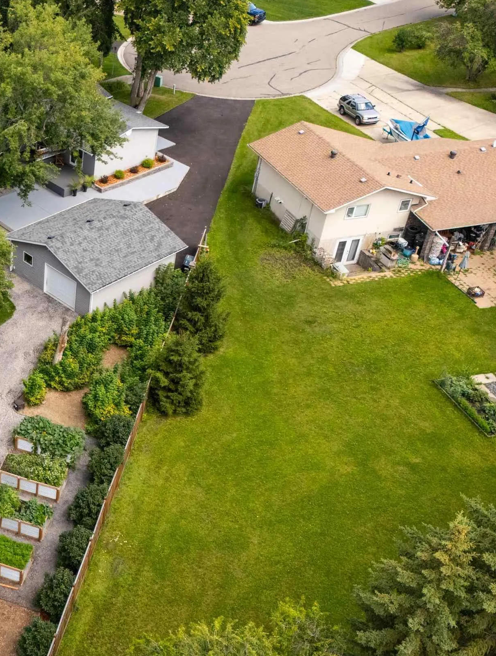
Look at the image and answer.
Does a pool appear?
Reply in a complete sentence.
No, there isn't any pool down there.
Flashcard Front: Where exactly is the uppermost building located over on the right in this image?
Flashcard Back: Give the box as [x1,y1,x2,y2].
[247,122,496,265]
